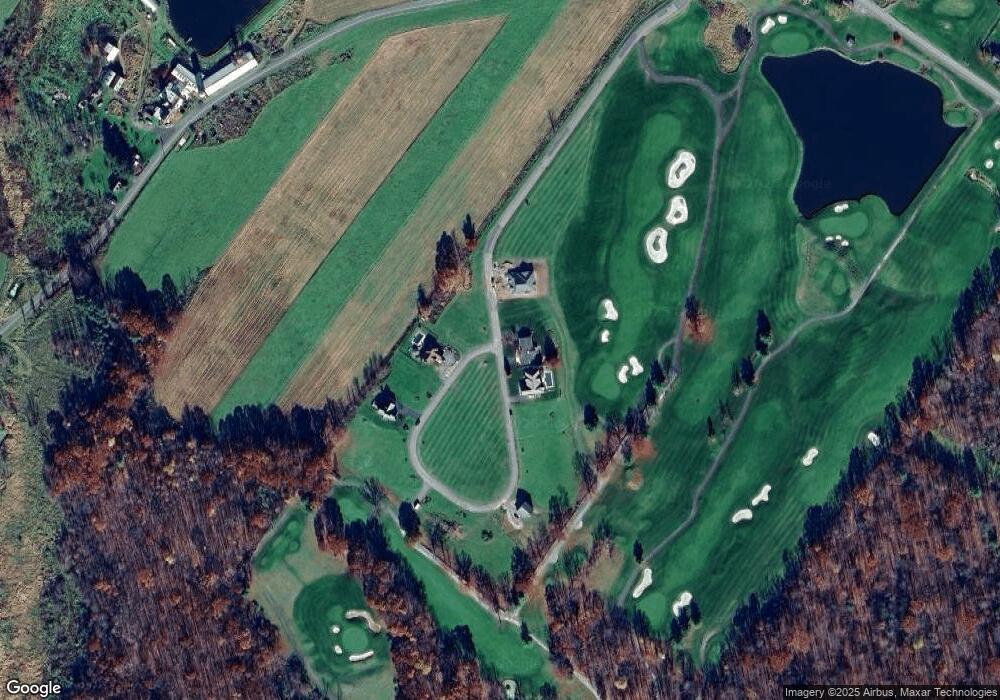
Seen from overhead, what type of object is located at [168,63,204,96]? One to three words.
barn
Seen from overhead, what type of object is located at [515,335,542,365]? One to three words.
house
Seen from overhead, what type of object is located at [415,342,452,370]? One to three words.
house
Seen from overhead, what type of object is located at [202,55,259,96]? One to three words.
barn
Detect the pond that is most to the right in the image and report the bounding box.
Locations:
[761,50,967,219]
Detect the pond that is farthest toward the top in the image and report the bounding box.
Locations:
[161,0,278,55]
